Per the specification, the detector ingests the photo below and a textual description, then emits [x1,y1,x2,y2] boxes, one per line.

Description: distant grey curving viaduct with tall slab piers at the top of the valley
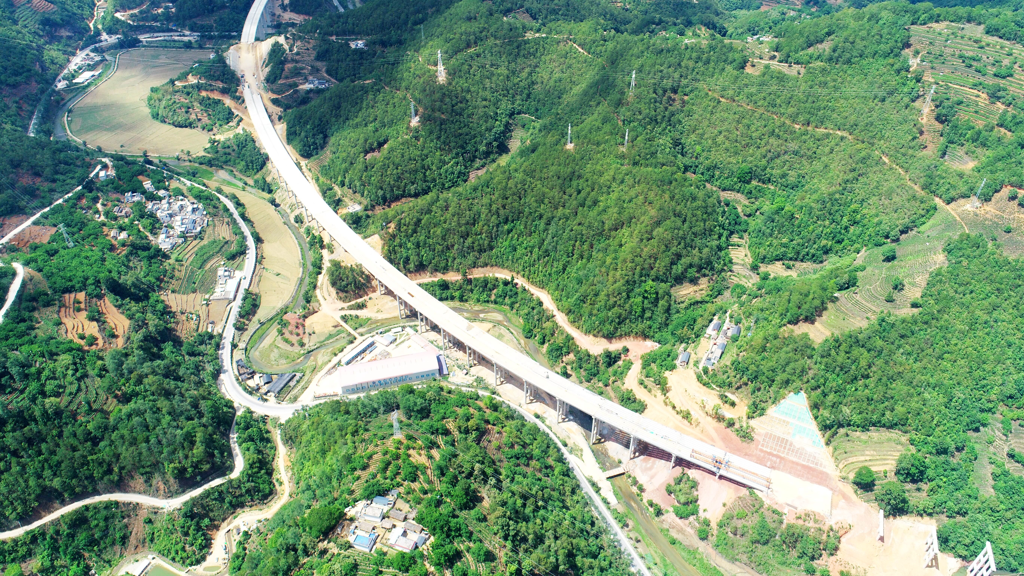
[245,0,279,47]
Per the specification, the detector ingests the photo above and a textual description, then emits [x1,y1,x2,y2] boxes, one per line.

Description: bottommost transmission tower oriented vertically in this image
[390,408,402,436]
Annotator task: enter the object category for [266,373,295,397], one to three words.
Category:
greenhouse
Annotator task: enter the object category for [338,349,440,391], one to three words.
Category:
building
